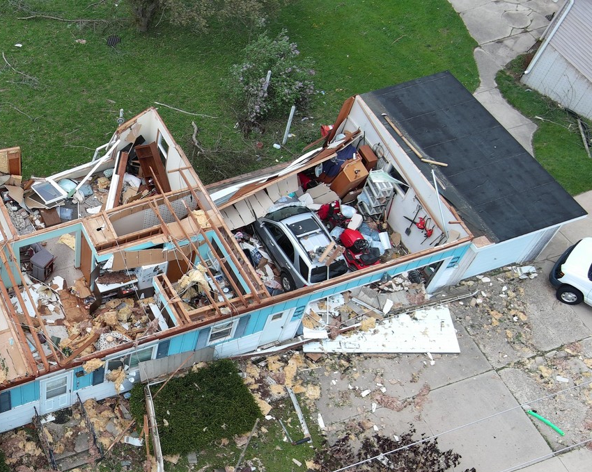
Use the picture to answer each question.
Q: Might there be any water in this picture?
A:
No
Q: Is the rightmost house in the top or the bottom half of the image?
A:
top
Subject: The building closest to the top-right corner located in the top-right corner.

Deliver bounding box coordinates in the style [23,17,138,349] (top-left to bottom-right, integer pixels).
[506,0,592,114]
